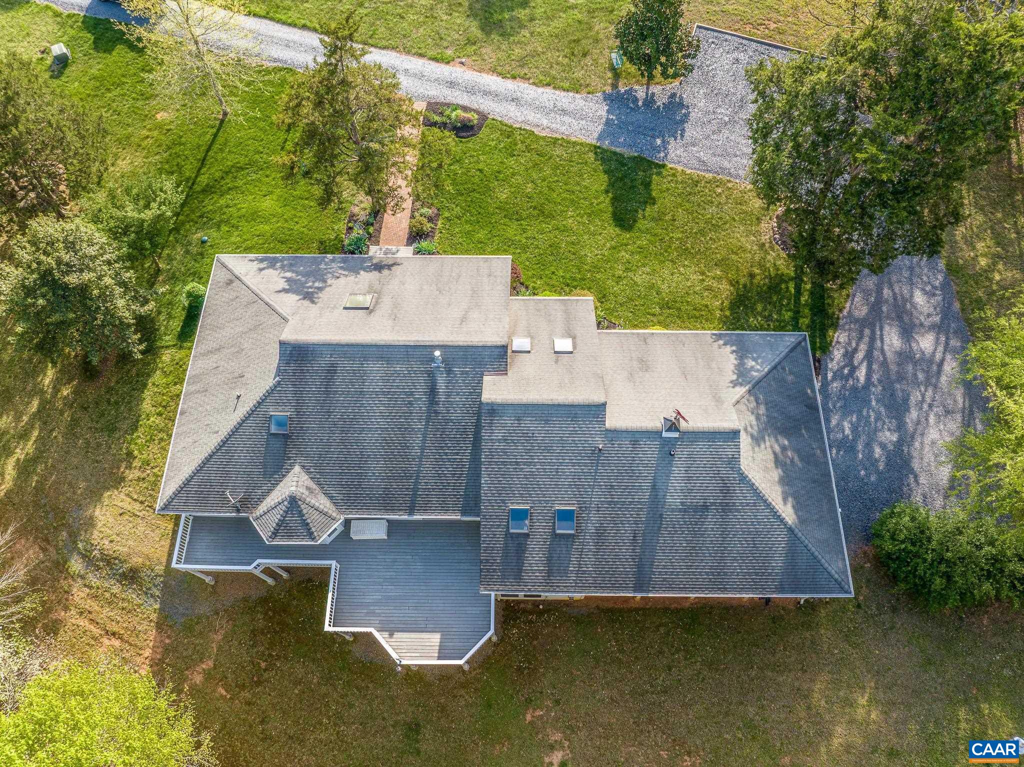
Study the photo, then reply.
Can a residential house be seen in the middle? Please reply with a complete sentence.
Yes, you'll find a residential house in the middle.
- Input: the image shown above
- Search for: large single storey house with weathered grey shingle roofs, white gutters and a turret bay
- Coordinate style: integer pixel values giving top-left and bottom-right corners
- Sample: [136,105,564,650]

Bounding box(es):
[153,253,859,612]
